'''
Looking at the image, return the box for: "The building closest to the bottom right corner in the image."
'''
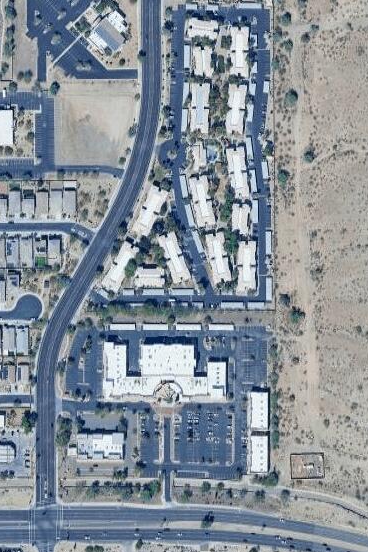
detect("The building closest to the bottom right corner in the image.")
[251,437,268,473]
